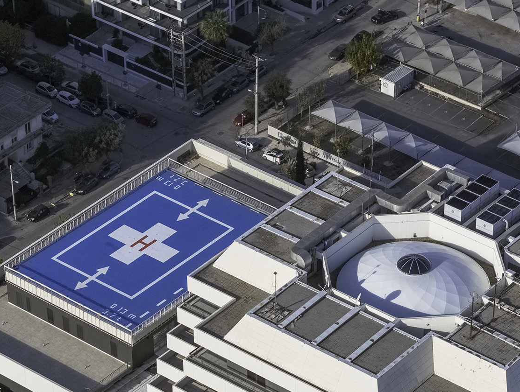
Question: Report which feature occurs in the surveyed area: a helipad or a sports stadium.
helipad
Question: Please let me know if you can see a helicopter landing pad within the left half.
Yes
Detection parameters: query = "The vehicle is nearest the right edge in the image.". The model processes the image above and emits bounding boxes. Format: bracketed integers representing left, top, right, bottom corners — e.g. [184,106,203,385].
[369,10,400,26]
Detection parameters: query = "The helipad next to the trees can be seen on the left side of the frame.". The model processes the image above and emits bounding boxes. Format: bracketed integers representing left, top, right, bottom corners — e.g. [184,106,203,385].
[10,164,276,344]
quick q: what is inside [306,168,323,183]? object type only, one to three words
car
